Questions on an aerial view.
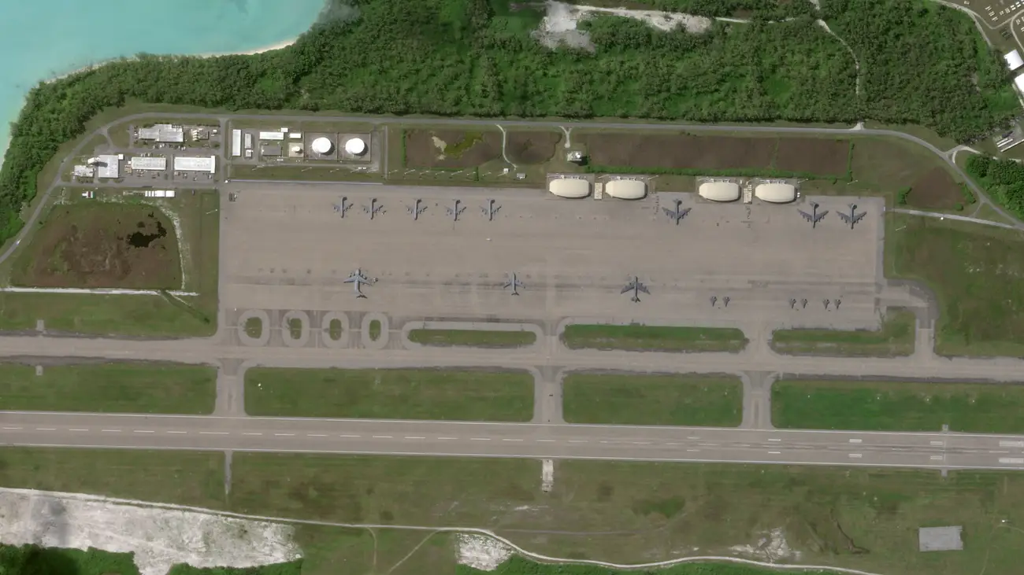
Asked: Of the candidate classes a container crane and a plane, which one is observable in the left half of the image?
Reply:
plane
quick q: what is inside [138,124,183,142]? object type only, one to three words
building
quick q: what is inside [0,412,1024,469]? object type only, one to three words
runway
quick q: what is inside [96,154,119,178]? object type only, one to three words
building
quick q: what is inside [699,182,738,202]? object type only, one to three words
hangar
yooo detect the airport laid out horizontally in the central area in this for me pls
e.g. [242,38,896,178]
[0,181,1024,469]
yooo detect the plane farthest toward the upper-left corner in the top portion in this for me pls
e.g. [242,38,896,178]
[332,195,354,218]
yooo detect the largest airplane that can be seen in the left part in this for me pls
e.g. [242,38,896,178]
[344,269,372,297]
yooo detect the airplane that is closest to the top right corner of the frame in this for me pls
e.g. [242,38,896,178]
[837,202,868,229]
